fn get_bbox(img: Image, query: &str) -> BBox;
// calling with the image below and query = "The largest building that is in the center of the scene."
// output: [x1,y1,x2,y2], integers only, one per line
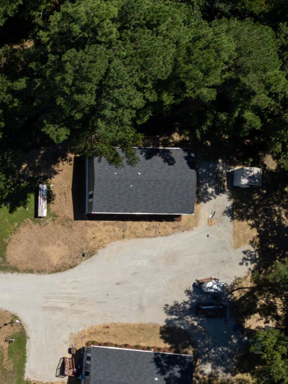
[86,136,201,214]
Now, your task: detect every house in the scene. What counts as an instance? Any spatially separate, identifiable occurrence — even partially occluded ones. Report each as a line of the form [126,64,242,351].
[86,136,201,214]
[63,345,195,384]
